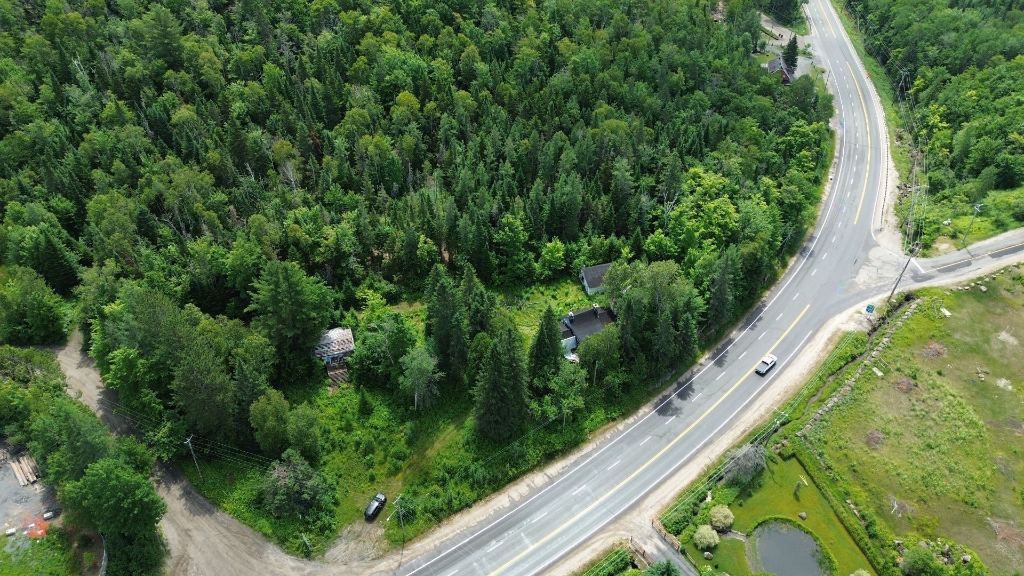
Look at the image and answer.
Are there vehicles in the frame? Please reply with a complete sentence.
Yes, a vehicle can be made out from above.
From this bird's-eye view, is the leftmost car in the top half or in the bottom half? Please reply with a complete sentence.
You can find the leftmost car in the bottom half.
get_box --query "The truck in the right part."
[754,356,779,378]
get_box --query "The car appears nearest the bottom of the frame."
[363,494,386,522]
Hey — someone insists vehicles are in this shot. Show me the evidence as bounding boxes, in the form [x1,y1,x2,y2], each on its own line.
[363,494,386,522]
[754,356,779,378]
